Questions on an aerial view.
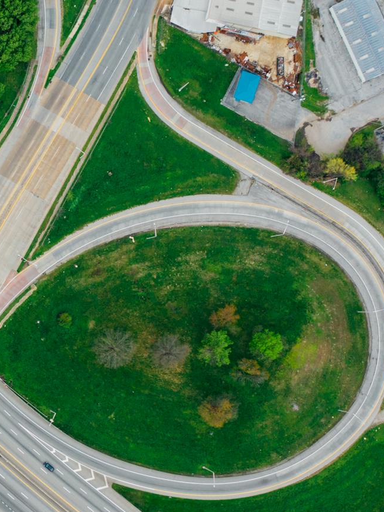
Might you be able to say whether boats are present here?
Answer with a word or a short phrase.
No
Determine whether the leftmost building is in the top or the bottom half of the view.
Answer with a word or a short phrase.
top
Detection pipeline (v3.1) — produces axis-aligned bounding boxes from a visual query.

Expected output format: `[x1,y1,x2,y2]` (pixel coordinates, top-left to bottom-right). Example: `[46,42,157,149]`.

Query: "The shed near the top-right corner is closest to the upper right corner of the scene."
[324,0,384,85]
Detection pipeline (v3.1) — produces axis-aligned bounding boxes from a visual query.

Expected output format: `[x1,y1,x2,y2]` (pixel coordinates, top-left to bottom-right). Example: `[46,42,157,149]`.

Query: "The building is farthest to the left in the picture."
[166,0,216,38]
